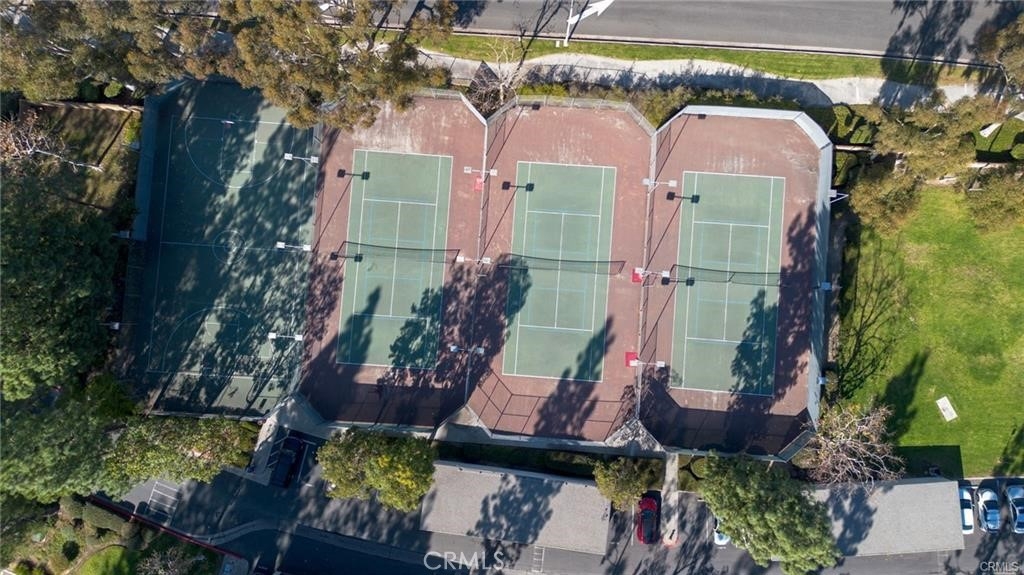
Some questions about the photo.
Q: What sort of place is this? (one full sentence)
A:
The picture captures a sports ground.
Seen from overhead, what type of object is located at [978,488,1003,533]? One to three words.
car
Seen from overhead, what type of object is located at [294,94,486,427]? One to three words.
tennis court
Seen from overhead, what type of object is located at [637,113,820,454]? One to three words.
tennis court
